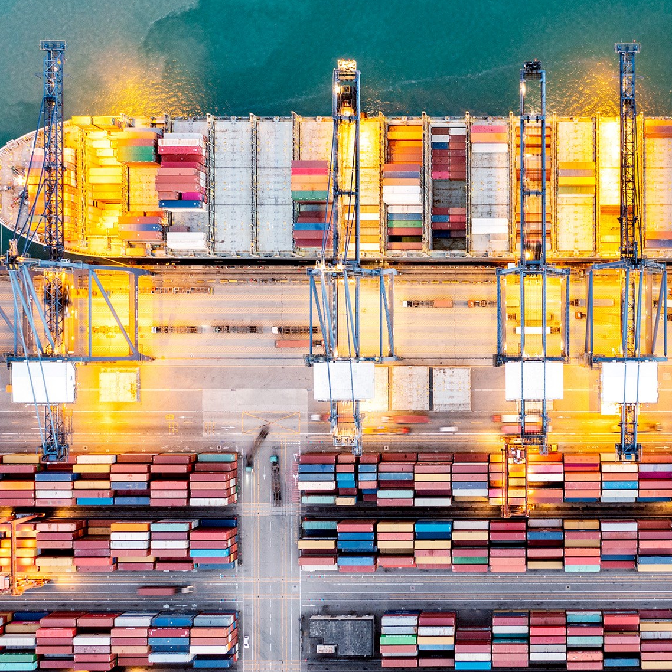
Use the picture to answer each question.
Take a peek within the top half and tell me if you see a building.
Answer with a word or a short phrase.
No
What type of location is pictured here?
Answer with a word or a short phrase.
port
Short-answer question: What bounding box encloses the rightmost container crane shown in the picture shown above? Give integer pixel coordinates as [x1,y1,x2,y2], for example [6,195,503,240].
[572,38,670,459]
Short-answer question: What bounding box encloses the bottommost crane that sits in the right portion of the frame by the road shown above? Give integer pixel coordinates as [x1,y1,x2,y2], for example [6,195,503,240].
[497,431,534,518]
